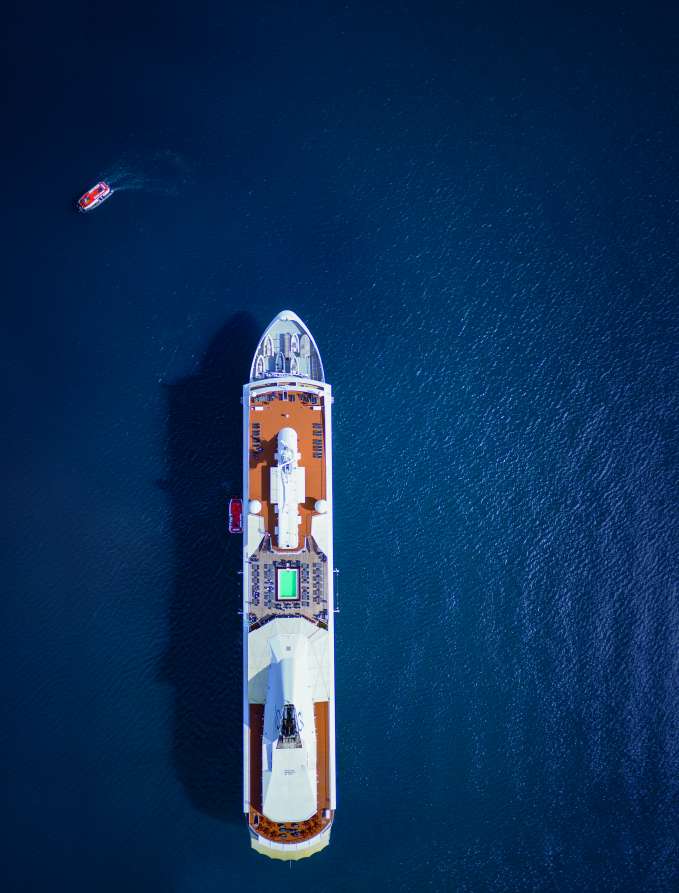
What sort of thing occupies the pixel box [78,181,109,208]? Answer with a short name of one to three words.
boat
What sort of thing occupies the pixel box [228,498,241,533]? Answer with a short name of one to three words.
boat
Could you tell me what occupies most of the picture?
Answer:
water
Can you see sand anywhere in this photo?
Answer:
No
